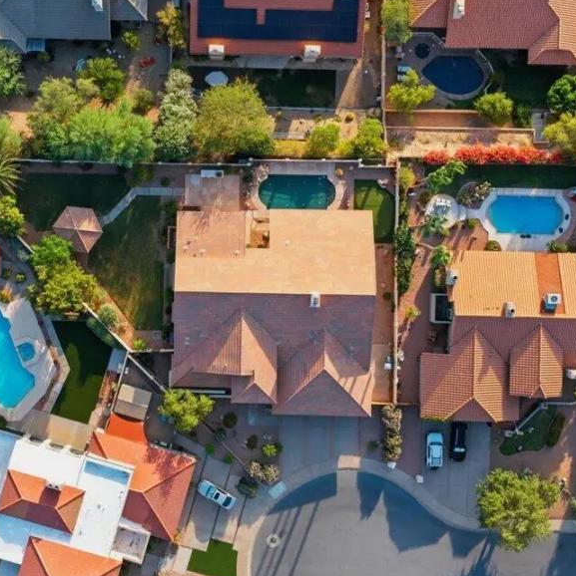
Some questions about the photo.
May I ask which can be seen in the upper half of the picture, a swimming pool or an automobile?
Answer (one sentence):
Looking in the upper half of the picture, you will find a swimming pool.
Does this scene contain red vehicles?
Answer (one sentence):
No, there isn't any red vehicle down there.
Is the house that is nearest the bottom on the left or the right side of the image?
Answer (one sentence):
The house that is nearest the bottom is on the left side of the image.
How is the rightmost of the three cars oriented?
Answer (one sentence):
I'd say the rightmost of the three cars is aligned vertically in the picture.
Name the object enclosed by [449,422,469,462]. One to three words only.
car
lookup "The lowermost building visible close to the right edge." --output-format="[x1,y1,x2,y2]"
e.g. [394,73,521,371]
[419,251,576,422]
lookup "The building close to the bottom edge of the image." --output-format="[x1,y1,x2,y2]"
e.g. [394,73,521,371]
[0,424,197,576]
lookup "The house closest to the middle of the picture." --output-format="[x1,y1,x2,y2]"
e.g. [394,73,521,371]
[170,168,376,417]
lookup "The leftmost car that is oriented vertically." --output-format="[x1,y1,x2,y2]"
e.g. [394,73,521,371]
[425,430,444,470]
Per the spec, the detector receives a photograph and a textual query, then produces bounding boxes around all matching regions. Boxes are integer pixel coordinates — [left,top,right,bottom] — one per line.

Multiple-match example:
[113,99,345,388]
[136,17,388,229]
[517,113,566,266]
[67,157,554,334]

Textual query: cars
[425,430,444,470]
[449,422,469,462]
[196,478,238,512]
